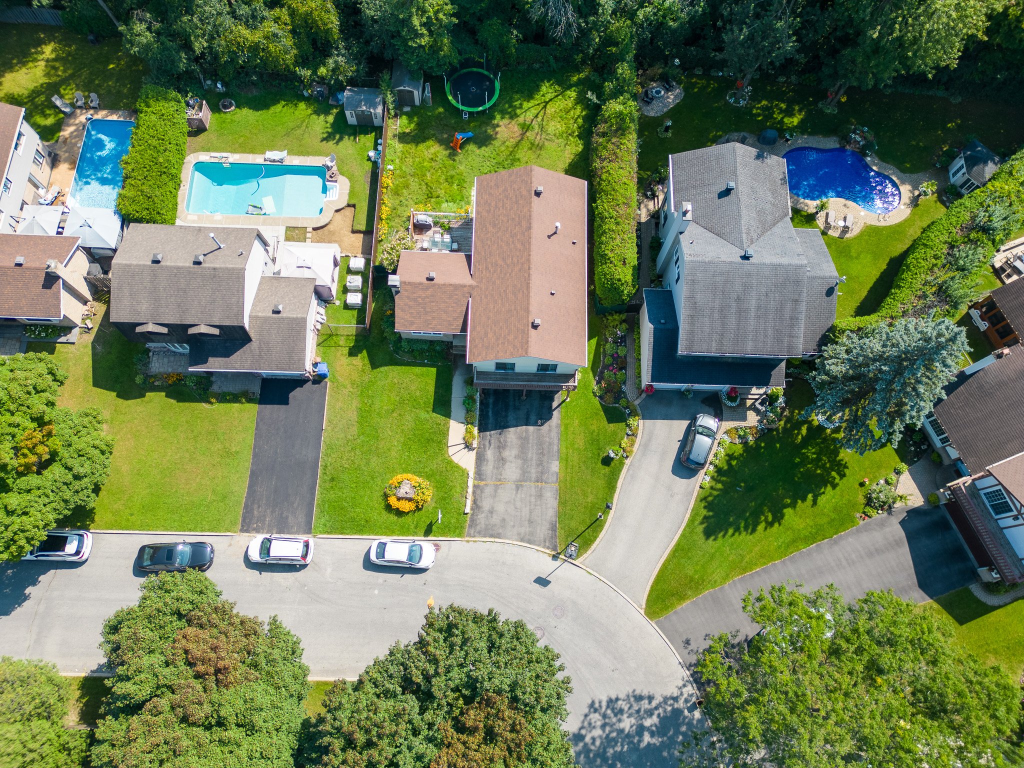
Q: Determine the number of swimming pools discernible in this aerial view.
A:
three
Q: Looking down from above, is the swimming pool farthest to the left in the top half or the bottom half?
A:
top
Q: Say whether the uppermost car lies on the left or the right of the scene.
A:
right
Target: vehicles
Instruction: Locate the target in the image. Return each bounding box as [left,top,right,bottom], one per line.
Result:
[680,409,722,474]
[368,537,438,571]
[18,528,95,564]
[246,531,316,567]
[135,538,216,573]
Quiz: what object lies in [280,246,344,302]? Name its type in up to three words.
gazebo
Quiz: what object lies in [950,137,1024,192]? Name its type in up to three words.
building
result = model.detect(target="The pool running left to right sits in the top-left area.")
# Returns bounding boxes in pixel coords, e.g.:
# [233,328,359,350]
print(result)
[179,149,350,227]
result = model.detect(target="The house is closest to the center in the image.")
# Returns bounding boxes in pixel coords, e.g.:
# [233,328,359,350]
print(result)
[386,165,589,404]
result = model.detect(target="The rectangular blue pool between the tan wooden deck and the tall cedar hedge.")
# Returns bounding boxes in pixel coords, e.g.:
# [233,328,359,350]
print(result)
[61,117,133,236]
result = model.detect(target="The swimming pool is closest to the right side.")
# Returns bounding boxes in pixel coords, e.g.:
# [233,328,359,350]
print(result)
[781,143,905,220]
